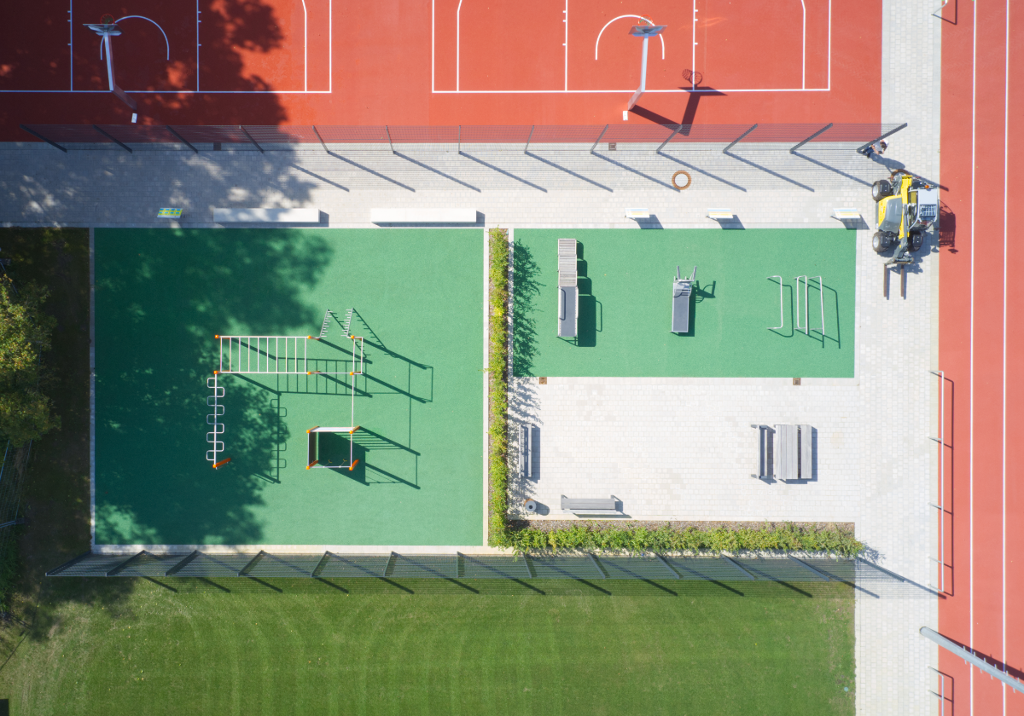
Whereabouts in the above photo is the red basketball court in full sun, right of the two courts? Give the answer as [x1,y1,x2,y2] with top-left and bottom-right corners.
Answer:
[381,0,882,142]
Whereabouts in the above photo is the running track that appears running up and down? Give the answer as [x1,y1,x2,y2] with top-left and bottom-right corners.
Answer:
[938,0,1024,716]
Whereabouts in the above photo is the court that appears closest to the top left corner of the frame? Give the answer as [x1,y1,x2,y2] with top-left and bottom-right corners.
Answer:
[0,0,381,142]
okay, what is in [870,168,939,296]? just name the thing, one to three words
work vehicle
